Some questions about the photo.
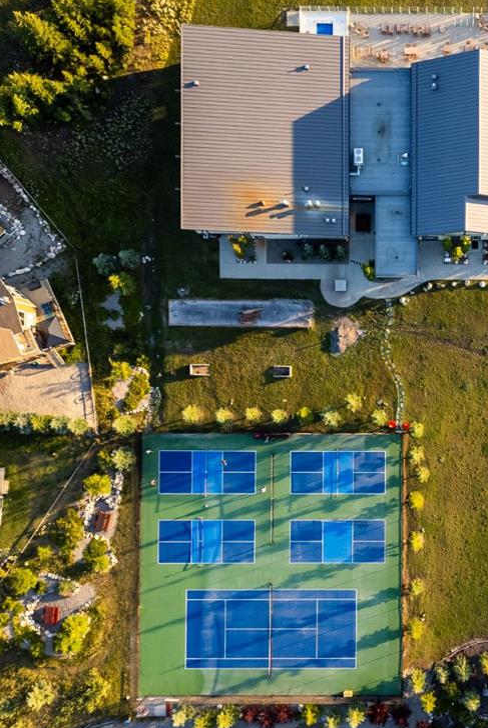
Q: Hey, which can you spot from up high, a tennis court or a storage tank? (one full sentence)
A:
It is a tennis court that can be seen here.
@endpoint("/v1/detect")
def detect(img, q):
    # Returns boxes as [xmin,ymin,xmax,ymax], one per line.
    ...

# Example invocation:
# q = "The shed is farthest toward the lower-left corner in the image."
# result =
[138,696,181,720]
